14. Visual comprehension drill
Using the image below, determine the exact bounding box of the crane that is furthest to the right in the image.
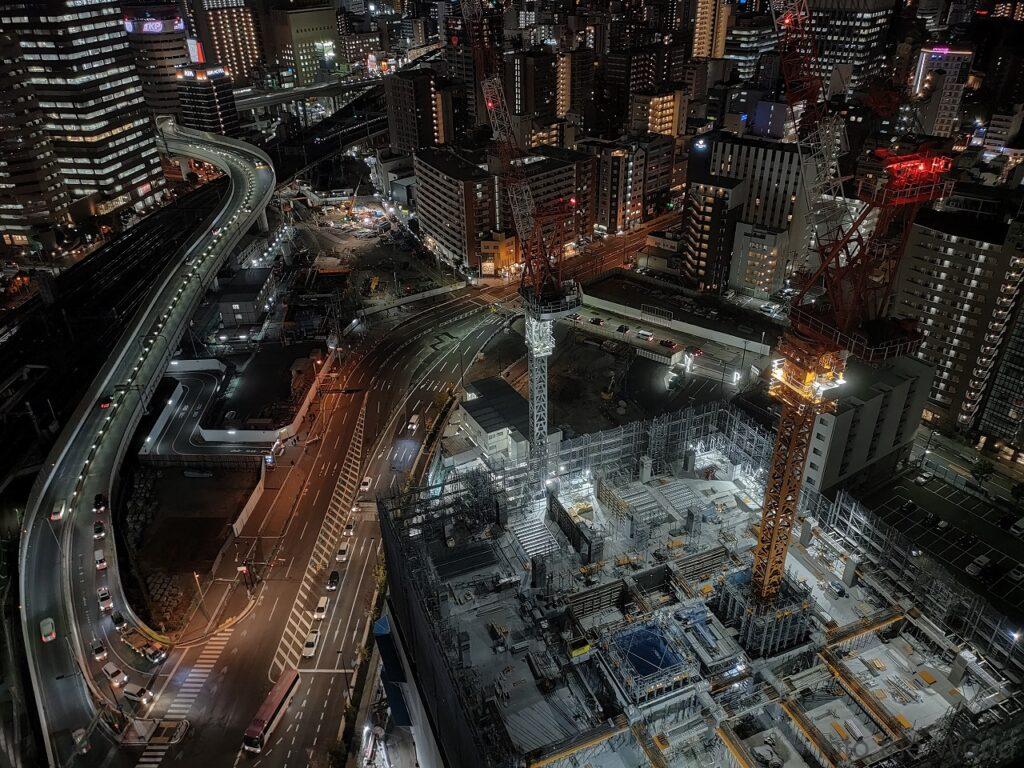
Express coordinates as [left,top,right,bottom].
[745,0,956,638]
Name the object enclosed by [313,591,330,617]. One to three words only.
car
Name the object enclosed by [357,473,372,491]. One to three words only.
car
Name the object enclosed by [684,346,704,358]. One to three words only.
vehicle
